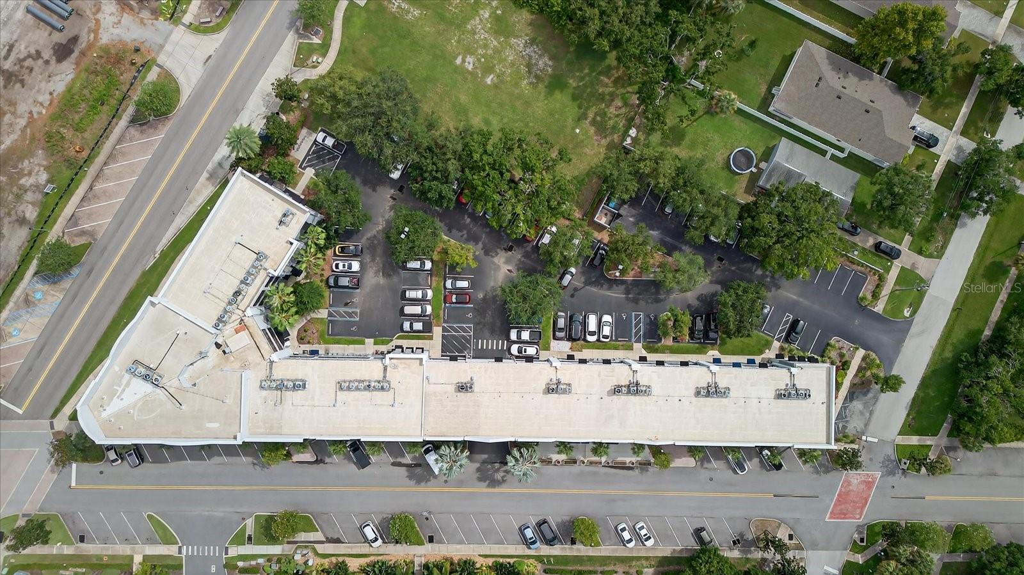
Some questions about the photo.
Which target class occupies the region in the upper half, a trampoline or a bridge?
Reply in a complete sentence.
There is a trampoline in the upper half.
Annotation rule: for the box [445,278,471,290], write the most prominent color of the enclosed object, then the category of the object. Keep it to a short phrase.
white vehicle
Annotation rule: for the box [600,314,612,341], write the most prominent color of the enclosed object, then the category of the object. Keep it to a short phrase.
white vehicle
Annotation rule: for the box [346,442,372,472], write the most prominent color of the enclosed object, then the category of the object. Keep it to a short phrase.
black vehicle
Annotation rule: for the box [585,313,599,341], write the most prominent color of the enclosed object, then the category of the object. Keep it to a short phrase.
white car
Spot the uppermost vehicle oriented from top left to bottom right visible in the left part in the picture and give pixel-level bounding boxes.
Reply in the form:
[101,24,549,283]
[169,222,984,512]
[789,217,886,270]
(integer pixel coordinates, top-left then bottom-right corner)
[315,131,347,155]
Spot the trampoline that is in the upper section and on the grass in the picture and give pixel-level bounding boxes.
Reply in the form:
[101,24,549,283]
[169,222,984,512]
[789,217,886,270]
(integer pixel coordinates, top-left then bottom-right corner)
[730,147,756,173]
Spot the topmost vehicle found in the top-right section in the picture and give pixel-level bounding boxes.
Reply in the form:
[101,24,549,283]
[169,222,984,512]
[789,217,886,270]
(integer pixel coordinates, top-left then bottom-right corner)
[911,126,939,147]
